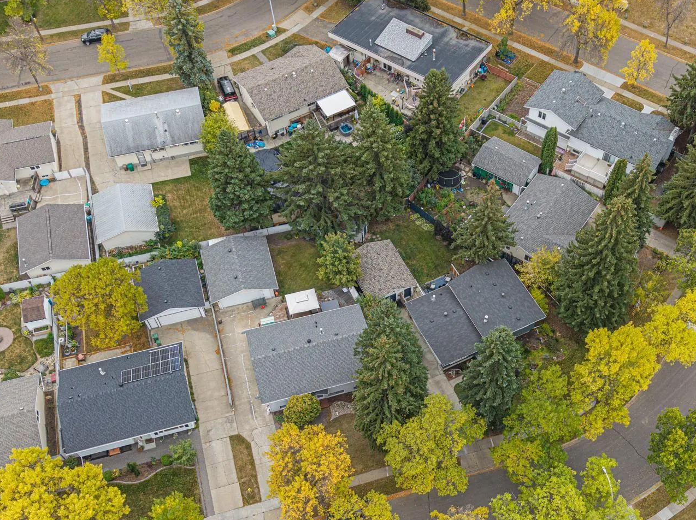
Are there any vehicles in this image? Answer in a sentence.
Yes, there's a vehicle here.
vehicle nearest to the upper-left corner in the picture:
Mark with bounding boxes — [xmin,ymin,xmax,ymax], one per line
[79,23,115,46]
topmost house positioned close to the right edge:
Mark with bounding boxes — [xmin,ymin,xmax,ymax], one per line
[523,70,683,186]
